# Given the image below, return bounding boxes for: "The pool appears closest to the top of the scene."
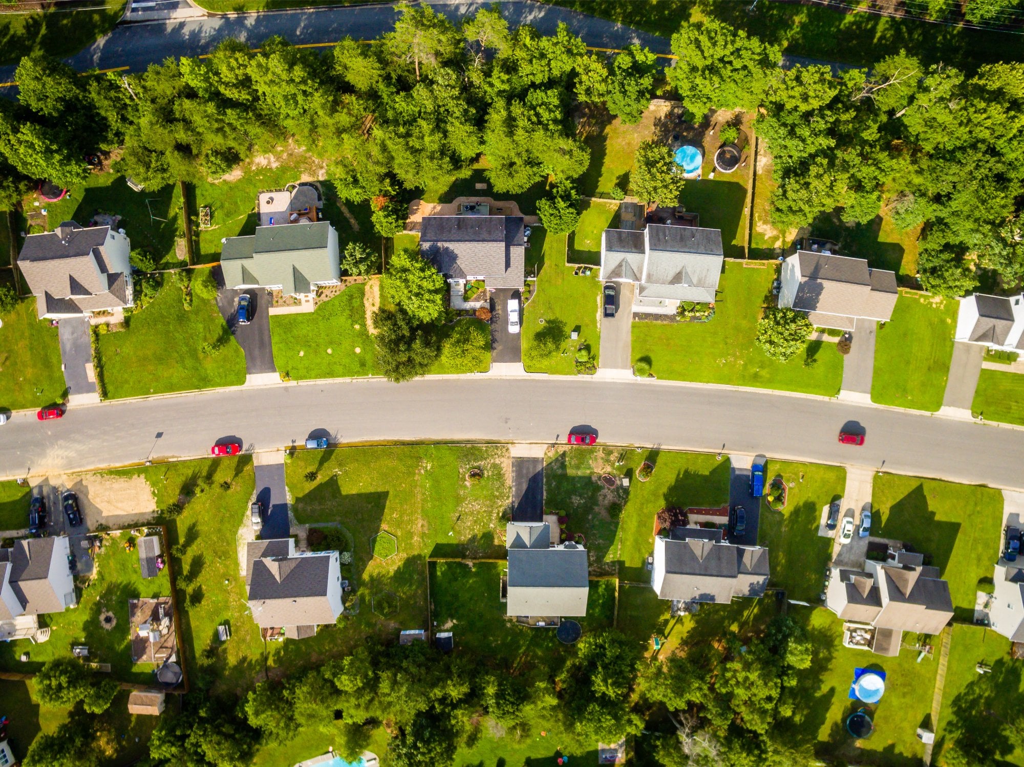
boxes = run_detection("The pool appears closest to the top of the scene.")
[676,142,707,175]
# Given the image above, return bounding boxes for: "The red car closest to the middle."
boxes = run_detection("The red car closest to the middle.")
[567,434,597,447]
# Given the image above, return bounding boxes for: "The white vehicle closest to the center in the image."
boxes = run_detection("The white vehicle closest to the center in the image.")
[507,297,520,333]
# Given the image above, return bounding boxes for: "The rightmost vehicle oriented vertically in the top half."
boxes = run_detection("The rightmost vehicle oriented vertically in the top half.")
[604,283,616,318]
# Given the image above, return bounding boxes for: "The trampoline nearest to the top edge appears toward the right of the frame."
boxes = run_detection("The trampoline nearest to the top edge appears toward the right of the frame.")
[716,138,747,170]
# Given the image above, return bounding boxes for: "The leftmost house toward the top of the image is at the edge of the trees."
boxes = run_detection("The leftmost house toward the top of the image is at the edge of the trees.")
[17,221,140,317]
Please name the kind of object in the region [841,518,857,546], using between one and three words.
car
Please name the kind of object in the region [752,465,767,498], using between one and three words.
vehicle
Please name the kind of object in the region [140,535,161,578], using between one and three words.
shed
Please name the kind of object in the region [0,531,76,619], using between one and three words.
house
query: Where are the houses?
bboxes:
[600,224,724,303]
[0,739,14,767]
[238,531,340,642]
[17,221,140,317]
[954,295,1024,354]
[420,215,524,290]
[780,250,898,331]
[984,556,1024,661]
[654,527,770,616]
[501,519,589,628]
[826,551,954,657]
[219,221,340,298]
[0,531,76,619]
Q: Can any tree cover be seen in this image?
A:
Yes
